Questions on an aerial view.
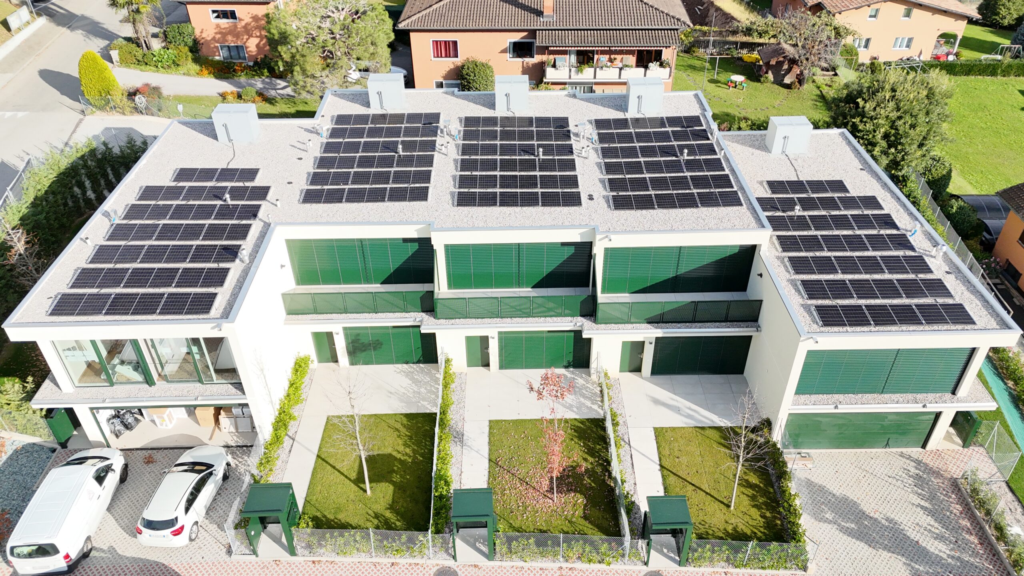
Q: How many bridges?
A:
0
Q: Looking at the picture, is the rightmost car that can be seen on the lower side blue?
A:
No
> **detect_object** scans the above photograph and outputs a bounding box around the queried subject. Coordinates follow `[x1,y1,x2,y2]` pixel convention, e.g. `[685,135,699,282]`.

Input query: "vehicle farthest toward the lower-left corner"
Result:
[7,452,128,576]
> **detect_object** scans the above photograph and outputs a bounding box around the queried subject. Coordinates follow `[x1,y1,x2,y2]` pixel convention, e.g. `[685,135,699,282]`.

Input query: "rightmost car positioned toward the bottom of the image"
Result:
[131,453,227,555]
